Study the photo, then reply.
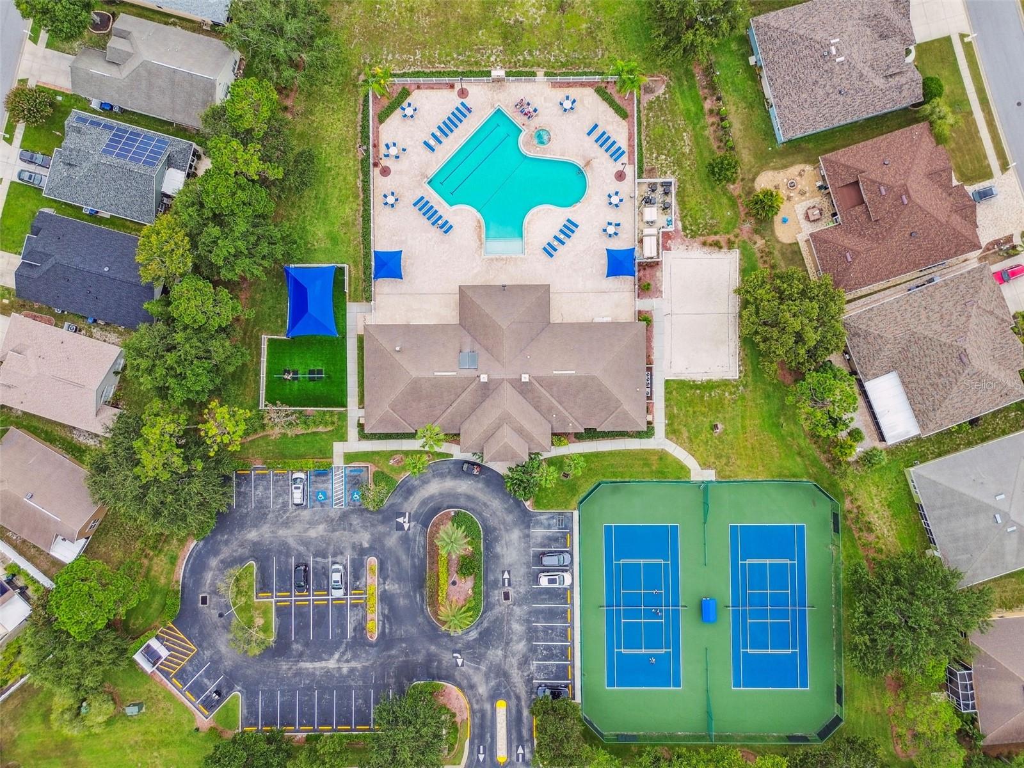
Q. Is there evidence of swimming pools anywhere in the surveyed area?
Yes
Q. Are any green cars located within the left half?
No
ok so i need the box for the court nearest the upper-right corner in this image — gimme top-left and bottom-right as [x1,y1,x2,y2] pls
[663,250,739,379]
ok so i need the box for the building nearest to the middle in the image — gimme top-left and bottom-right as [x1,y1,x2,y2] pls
[364,284,647,463]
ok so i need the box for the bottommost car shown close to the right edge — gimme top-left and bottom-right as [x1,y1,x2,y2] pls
[994,264,1024,284]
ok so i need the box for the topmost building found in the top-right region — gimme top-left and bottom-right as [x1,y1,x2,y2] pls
[747,0,924,144]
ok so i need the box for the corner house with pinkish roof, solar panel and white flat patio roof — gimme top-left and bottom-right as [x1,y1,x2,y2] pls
[0,564,30,635]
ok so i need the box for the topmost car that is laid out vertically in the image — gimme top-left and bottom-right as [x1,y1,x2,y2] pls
[288,472,305,507]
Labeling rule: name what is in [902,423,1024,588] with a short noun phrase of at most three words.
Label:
house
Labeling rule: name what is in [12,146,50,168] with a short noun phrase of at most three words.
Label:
car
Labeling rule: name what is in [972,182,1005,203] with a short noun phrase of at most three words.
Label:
car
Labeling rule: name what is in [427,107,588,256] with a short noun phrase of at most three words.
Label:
swimming pool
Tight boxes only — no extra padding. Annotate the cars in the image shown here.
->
[328,564,344,597]
[11,168,47,188]
[538,573,571,590]
[288,472,305,507]
[994,264,1024,284]
[972,182,1005,203]
[12,146,50,168]
[540,554,570,570]
[291,563,307,594]
[537,685,570,701]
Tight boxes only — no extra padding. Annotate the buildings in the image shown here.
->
[42,109,195,225]
[15,210,174,329]
[134,0,238,31]
[364,284,647,463]
[806,123,982,294]
[0,426,107,562]
[959,611,1024,746]
[747,0,924,144]
[0,564,30,635]
[902,423,1024,588]
[70,13,240,131]
[0,312,127,436]
[838,262,1024,445]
